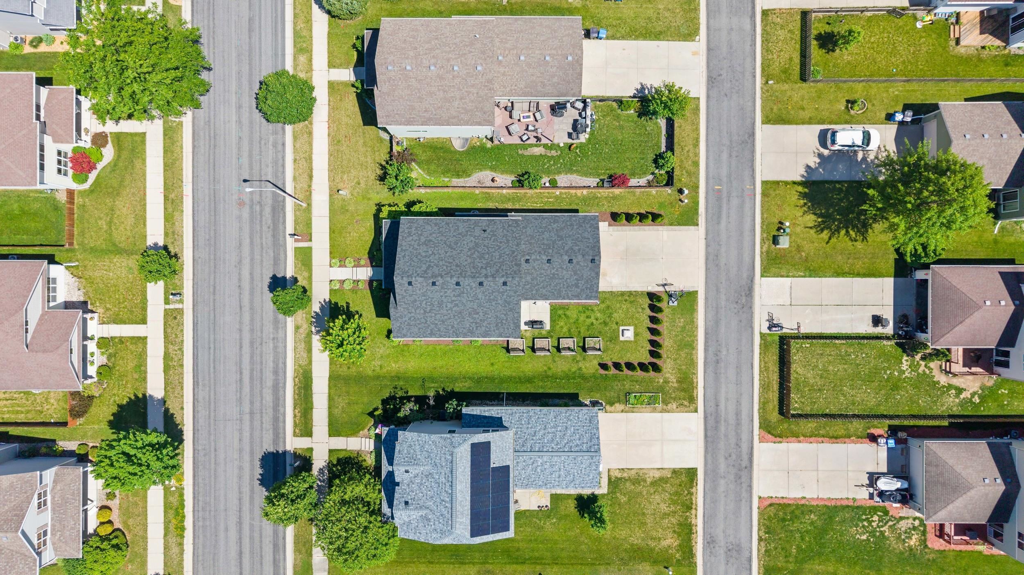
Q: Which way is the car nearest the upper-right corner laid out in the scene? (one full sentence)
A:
The car nearest the upper-right corner is laid out from side to side.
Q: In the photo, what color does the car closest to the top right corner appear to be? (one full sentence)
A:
In this view, the car closest to the top right corner is white.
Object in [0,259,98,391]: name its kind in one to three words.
house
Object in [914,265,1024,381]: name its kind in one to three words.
house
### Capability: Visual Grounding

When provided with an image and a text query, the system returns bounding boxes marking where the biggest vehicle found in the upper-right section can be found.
[830,125,881,149]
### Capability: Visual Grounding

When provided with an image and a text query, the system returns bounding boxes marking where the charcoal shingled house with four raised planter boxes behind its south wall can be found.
[382,212,601,340]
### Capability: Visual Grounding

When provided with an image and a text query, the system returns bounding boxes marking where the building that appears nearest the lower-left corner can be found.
[0,444,97,575]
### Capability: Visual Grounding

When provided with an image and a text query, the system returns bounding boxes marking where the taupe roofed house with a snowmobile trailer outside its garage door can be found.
[908,436,1024,563]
